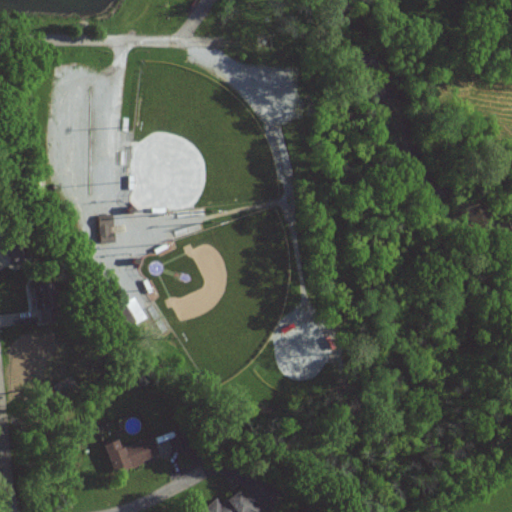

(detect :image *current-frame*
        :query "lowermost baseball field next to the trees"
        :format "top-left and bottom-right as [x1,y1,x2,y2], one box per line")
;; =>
[138,205,290,384]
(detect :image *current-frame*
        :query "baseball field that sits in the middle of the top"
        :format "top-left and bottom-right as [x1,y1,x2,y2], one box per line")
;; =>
[130,60,284,210]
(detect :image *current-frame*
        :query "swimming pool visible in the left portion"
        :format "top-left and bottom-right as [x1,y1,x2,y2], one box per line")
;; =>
[124,418,141,434]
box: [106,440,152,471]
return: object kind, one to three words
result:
house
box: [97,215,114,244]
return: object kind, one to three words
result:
building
